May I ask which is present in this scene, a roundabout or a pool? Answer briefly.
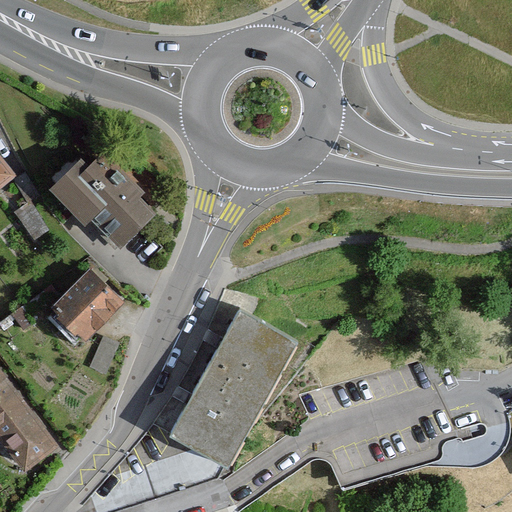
roundabout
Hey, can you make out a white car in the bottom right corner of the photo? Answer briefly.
Yes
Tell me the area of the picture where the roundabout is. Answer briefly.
top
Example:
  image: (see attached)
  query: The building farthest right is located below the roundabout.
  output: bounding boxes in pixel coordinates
[171,310,297,466]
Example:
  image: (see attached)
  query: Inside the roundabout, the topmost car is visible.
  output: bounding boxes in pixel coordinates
[246,48,267,60]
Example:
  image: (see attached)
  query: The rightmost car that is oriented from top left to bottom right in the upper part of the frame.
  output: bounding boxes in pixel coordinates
[297,72,317,89]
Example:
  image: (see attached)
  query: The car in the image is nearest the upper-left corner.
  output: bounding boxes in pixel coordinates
[17,8,35,22]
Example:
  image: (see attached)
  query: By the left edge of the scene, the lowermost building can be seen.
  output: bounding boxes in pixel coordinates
[0,366,59,472]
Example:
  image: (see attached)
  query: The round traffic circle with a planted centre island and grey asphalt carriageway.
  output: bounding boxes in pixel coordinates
[179,24,346,190]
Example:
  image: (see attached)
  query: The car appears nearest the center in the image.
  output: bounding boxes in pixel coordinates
[196,288,210,308]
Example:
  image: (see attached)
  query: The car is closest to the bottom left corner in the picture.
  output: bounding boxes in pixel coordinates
[98,474,119,496]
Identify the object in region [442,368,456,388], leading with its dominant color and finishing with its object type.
white vehicle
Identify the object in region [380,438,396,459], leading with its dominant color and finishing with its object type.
white car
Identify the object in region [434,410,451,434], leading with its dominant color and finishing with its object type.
white car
